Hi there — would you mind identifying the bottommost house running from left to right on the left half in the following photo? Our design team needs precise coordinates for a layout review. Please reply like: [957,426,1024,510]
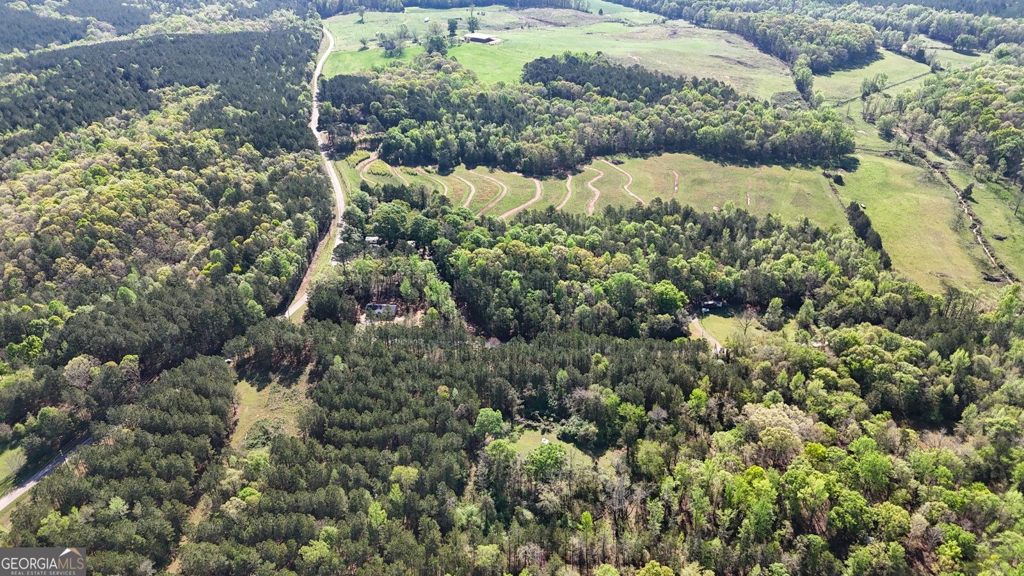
[365,304,399,320]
